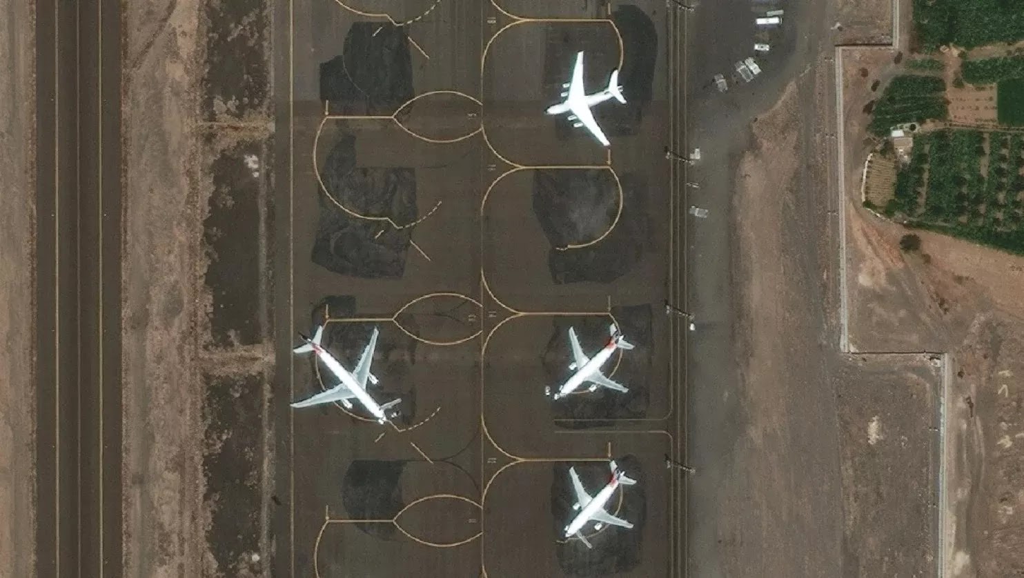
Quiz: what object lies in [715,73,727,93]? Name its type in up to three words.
vehicle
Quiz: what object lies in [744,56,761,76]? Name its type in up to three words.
work vehicle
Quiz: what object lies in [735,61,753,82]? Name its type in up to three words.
work vehicle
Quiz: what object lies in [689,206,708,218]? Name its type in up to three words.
vehicle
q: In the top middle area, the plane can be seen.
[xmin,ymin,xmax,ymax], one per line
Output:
[545,51,626,145]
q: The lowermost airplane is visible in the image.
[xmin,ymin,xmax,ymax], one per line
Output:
[564,462,634,537]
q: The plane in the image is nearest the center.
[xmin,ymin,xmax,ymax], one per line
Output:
[558,325,633,396]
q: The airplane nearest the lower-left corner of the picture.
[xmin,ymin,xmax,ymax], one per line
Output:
[290,326,385,418]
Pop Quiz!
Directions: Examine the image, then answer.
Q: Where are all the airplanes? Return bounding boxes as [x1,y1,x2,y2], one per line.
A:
[564,462,634,537]
[290,326,385,418]
[545,51,626,145]
[558,325,633,396]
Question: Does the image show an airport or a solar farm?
airport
